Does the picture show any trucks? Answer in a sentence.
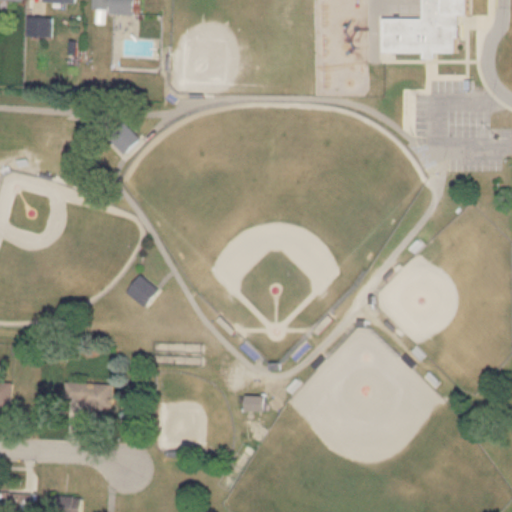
No, no truck can be seen from above.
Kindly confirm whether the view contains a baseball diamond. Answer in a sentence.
Yes, a baseball diamond can be made out from above.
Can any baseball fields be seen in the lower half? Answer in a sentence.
Yes, you'll find a baseball field in the lower half.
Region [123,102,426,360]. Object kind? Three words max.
baseball field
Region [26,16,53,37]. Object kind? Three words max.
building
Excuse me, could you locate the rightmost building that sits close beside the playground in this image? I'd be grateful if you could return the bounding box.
[380,0,466,60]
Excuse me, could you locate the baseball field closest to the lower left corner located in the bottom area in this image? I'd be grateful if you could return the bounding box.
[158,400,208,451]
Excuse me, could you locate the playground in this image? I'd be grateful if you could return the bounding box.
[316,0,370,96]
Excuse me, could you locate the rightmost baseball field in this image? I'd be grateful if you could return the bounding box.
[378,206,512,390]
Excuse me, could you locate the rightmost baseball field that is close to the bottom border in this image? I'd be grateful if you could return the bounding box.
[225,327,510,512]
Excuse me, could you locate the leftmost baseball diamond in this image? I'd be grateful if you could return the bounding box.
[0,172,147,327]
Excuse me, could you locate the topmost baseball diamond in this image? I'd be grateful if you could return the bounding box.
[170,0,316,95]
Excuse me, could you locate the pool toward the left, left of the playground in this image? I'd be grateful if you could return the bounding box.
[122,39,154,58]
